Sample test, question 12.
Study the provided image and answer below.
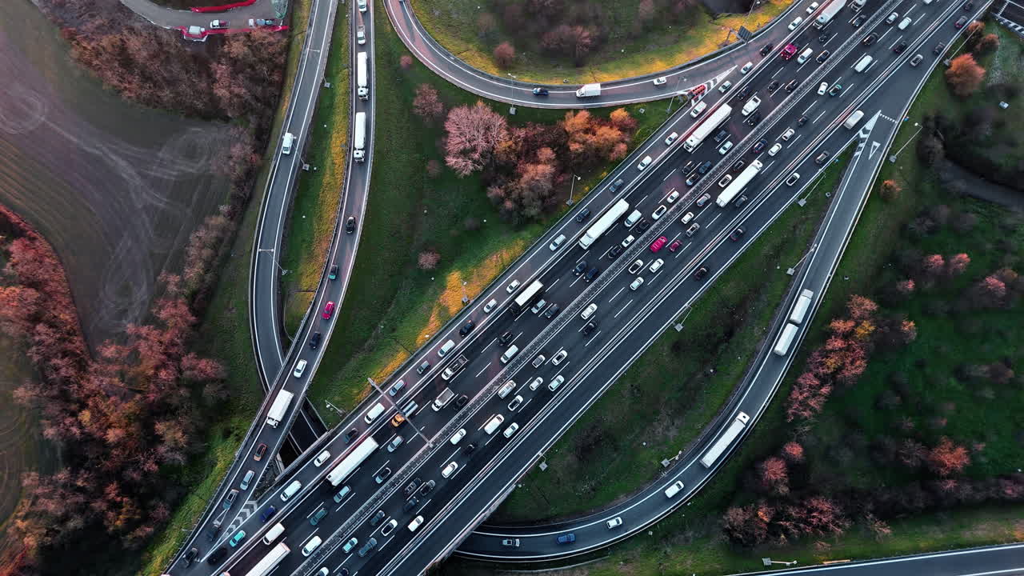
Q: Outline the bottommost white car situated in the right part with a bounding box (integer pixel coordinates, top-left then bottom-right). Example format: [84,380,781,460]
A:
[606,516,623,529]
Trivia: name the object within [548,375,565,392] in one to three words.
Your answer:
car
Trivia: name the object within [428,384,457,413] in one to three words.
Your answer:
truck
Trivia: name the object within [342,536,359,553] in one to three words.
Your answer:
car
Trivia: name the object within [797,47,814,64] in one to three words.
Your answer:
vehicle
